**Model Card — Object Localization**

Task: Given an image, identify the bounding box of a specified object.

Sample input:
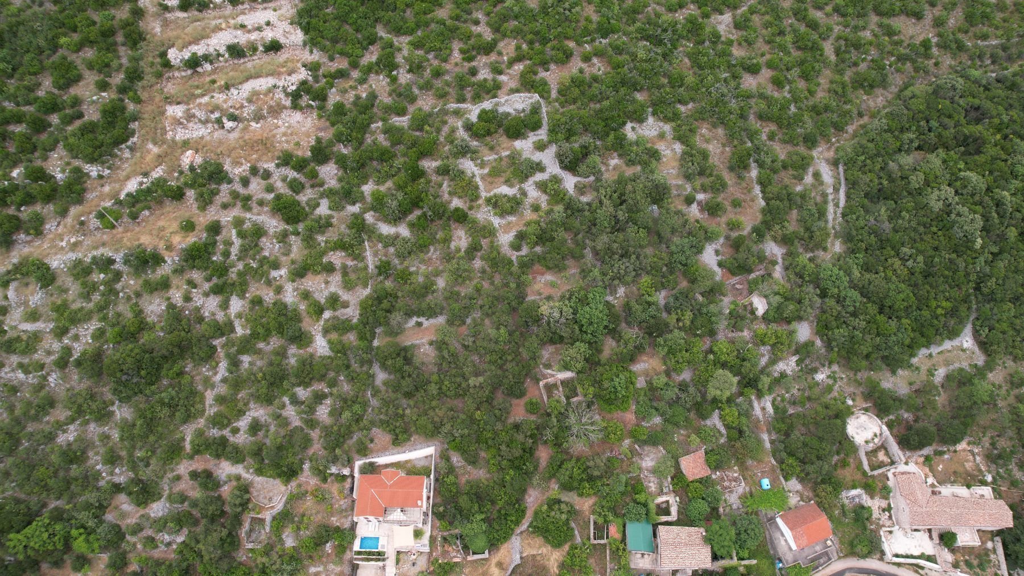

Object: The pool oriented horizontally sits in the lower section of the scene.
[354,536,388,551]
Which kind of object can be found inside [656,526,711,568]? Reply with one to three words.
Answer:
house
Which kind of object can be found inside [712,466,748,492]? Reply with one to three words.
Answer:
shed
